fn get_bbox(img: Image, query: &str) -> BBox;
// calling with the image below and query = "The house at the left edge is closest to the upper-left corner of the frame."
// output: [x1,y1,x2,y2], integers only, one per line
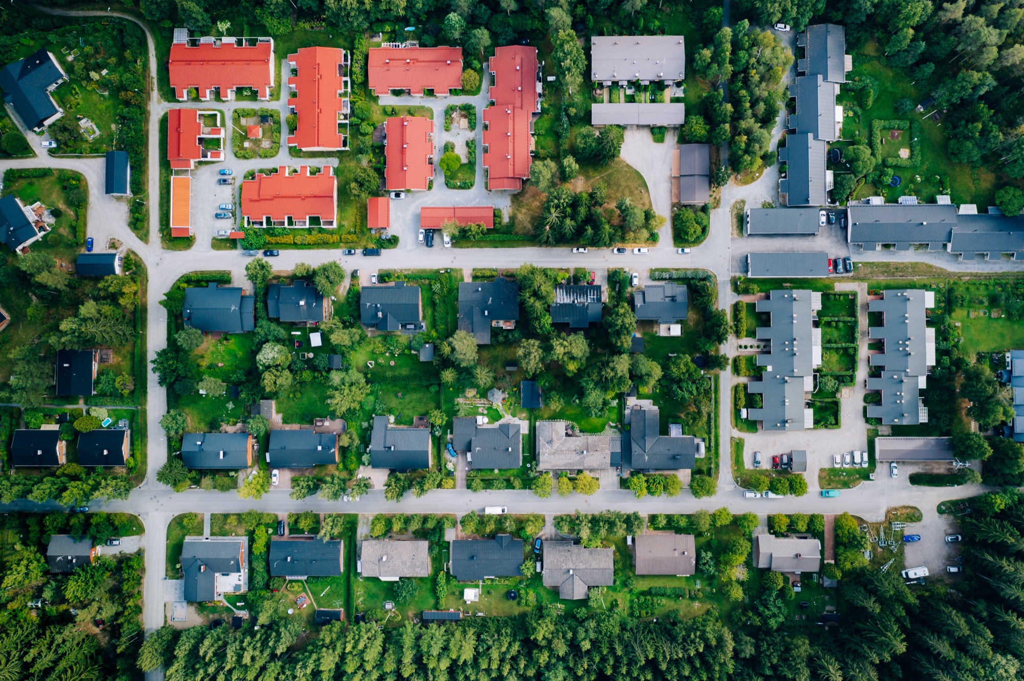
[0,47,71,131]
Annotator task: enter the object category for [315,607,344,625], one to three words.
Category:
building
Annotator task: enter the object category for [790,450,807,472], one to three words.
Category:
shed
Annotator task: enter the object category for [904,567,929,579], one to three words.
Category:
vehicle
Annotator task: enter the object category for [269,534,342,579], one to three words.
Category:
house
